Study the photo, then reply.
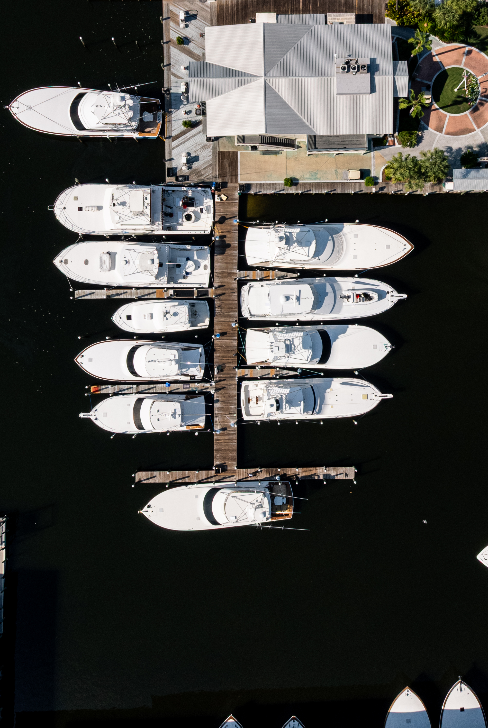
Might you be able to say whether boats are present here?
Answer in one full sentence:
Yes, the photo shows a boat.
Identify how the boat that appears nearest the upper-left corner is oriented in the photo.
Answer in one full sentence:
The boat that appears nearest the upper-left corner is oriented from side to side.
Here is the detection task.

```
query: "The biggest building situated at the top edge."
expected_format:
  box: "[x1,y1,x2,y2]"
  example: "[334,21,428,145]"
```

[189,13,409,154]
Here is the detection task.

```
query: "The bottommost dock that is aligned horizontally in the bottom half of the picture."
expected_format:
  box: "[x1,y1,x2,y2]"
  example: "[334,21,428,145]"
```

[135,465,356,483]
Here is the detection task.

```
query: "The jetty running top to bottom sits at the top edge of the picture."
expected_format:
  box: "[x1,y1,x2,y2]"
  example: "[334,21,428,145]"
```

[163,0,227,186]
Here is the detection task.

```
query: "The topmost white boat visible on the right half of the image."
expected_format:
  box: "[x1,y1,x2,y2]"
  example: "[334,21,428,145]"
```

[231,218,413,271]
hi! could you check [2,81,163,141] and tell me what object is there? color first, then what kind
white boat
